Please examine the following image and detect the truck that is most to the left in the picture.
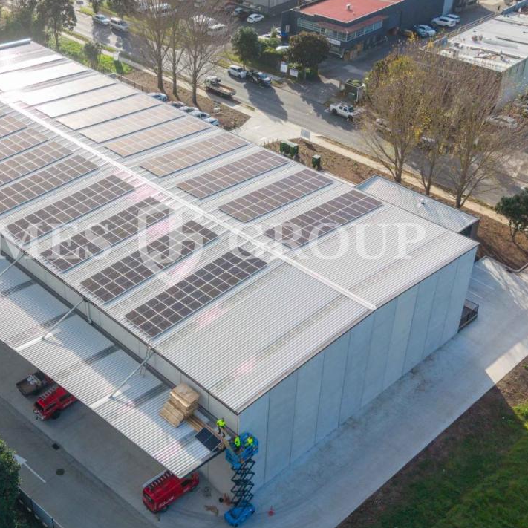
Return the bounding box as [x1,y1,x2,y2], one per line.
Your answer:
[14,366,58,398]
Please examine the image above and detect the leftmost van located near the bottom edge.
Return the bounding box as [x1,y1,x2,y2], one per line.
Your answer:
[143,471,204,516]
